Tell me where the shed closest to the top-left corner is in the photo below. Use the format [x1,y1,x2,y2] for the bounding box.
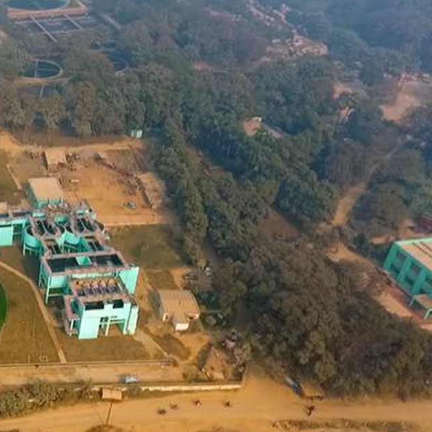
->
[38,146,70,168]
